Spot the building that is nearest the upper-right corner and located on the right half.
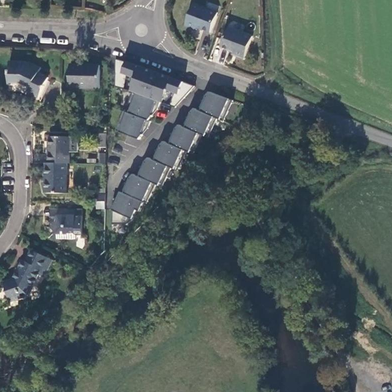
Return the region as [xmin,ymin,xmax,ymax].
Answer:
[221,28,255,60]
